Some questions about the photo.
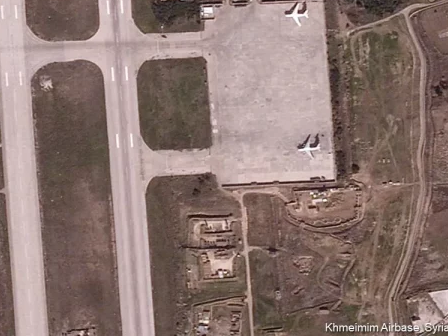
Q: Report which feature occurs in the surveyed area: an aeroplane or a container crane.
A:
aeroplane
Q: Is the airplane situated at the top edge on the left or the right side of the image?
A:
right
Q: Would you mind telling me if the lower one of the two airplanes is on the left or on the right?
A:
right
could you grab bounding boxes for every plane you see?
[285,4,308,28]
[297,137,321,161]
